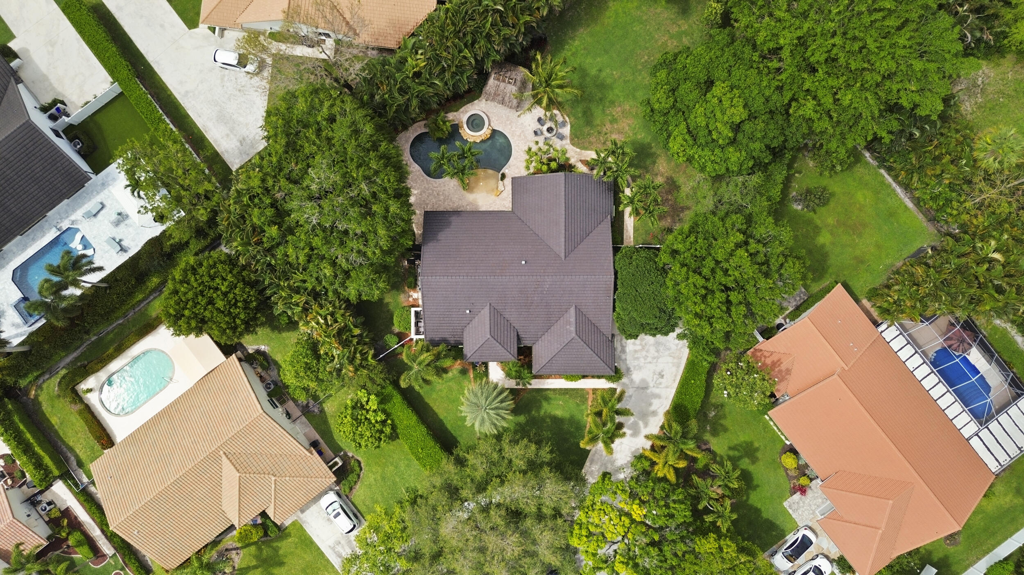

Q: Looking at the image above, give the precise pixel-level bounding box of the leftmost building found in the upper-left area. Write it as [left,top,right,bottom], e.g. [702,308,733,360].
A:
[0,42,105,253]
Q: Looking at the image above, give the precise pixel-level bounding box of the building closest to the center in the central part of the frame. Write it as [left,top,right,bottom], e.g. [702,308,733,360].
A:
[419,170,616,376]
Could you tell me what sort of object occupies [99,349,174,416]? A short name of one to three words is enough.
swimming pool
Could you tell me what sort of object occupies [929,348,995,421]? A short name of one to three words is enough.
swimming pool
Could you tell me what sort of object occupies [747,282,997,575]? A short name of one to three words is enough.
house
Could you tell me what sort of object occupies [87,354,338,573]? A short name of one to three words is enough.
house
